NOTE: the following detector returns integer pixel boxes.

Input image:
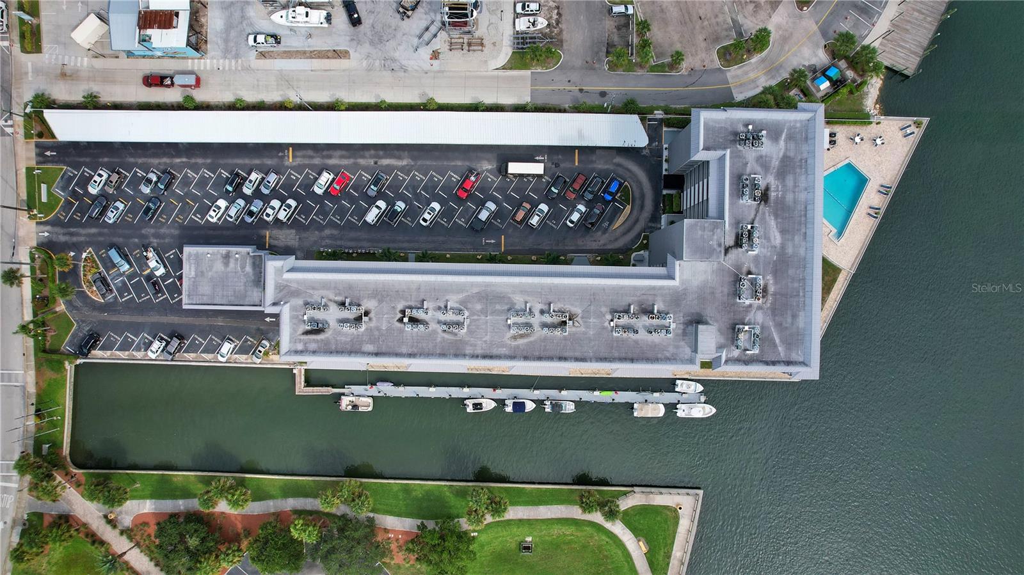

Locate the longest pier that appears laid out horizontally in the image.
[345,385,712,404]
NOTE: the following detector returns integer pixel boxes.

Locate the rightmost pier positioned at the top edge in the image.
[877,0,949,77]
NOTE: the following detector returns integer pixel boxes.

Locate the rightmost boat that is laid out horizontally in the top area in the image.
[515,16,547,31]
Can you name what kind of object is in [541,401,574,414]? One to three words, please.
boat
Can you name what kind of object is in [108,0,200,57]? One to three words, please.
shed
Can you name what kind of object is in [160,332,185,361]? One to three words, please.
car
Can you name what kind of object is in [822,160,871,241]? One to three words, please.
swimming pool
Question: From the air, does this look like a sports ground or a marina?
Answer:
marina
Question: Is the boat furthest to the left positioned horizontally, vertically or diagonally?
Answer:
horizontally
